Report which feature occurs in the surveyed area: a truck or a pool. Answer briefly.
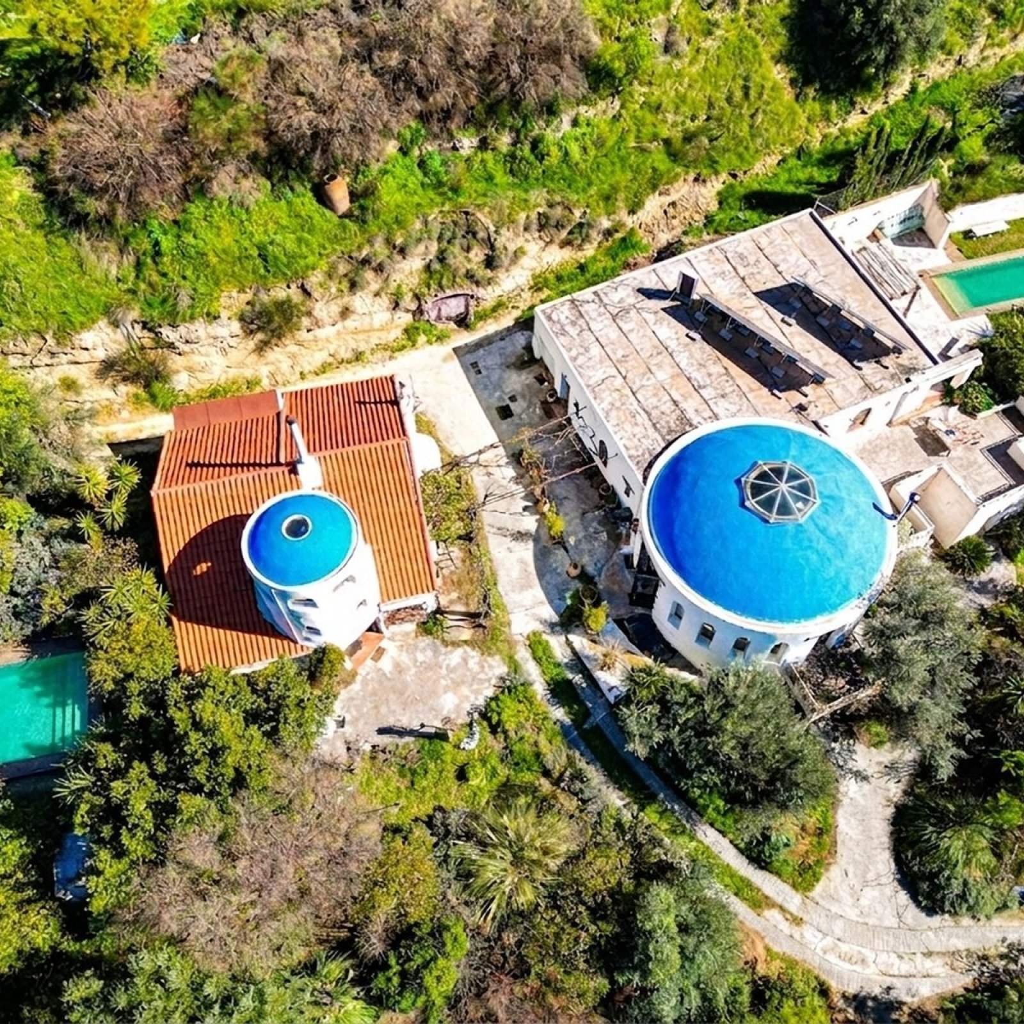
pool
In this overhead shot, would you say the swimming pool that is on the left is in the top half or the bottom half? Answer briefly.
bottom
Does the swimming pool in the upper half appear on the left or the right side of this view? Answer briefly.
right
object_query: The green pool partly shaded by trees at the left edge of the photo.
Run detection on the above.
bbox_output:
[0,643,100,772]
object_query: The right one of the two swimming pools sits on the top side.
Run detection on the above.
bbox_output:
[918,247,1024,323]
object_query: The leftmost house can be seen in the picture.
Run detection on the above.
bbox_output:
[149,364,446,699]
